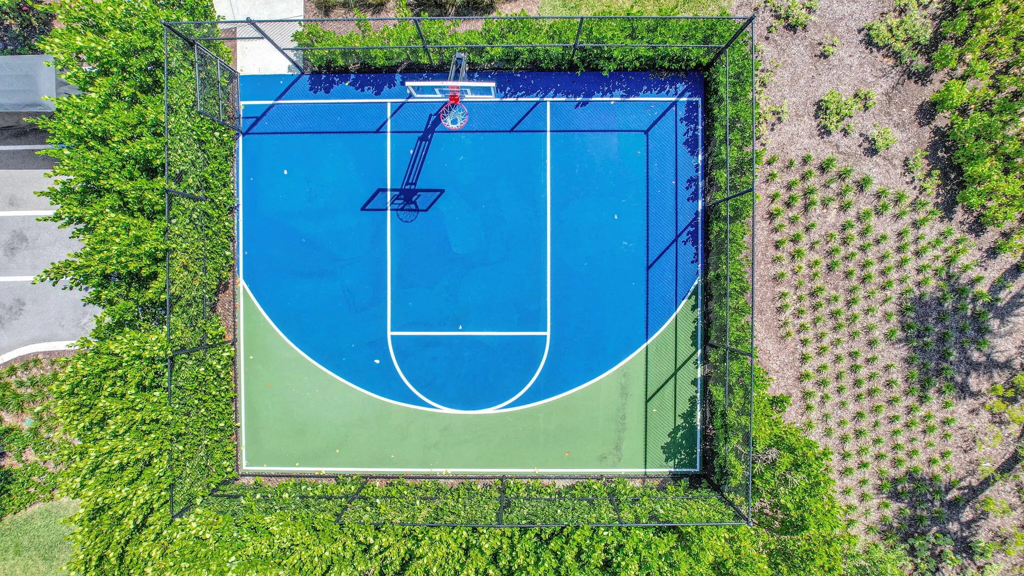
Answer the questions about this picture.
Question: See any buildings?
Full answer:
No, there's no building here.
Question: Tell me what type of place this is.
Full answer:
The picture captures a sports ground.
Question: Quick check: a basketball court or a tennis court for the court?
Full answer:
The court in the image is a basketball court.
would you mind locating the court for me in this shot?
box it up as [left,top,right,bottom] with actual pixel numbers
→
[237,71,704,475]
